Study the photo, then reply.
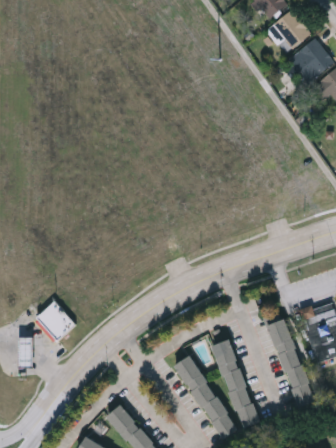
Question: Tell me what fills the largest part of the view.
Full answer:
The bulk of the photo consists of grass.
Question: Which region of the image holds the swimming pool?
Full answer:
You can find the swimming pool in the bottom area of the picture.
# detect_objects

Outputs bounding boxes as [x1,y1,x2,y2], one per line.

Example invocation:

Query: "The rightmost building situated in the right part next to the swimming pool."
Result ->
[212,340,259,428]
